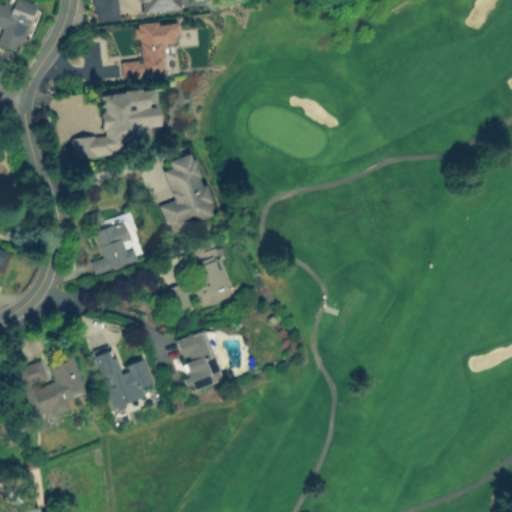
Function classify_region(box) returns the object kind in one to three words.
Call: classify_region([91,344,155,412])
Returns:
house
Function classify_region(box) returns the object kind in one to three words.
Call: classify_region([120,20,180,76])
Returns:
house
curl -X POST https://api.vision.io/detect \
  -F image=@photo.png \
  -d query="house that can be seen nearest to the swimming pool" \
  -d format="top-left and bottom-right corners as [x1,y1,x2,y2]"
[176,330,224,390]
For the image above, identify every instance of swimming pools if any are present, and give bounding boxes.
[207,330,250,376]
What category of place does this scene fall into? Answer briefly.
golf course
